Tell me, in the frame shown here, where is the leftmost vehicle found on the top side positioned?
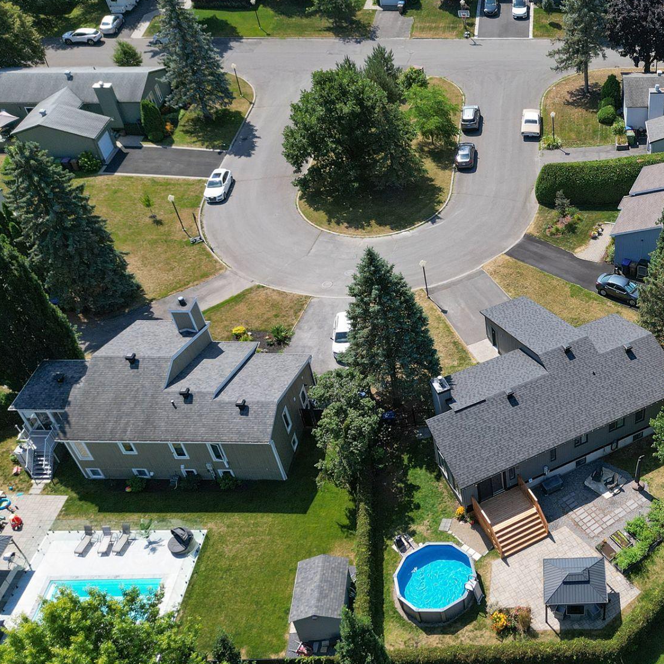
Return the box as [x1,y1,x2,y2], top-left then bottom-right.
[62,25,105,43]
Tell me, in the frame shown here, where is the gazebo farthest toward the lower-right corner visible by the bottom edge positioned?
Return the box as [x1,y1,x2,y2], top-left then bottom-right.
[542,558,608,632]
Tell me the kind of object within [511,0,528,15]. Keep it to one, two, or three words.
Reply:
car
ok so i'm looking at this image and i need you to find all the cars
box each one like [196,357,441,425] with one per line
[327,308,363,361]
[591,271,655,306]
[511,0,528,15]
[62,25,105,43]
[197,170,239,203]
[142,28,180,45]
[451,144,478,171]
[520,112,542,139]
[482,0,498,14]
[460,107,481,132]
